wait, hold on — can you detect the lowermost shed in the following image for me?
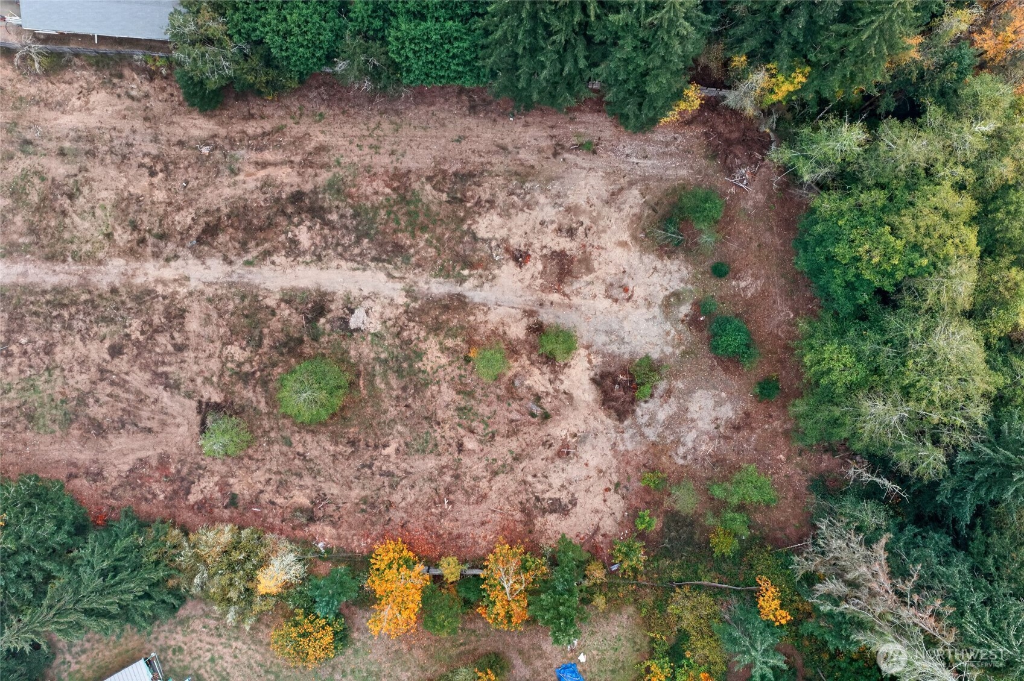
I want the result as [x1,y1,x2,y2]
[102,641,179,681]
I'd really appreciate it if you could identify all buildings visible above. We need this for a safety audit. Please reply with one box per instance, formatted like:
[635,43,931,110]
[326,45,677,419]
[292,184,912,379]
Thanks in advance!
[19,0,193,46]
[102,641,179,681]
